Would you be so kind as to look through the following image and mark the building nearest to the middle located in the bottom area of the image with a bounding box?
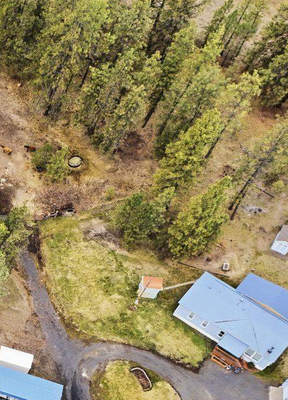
[137,276,163,296]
